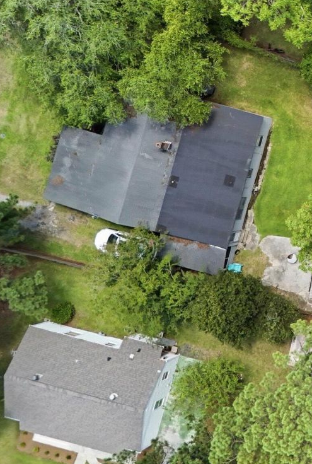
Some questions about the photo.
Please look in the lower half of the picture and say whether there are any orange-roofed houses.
No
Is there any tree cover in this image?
Yes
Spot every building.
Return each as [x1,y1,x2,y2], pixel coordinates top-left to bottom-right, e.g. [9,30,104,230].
[45,87,271,275]
[4,320,182,453]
